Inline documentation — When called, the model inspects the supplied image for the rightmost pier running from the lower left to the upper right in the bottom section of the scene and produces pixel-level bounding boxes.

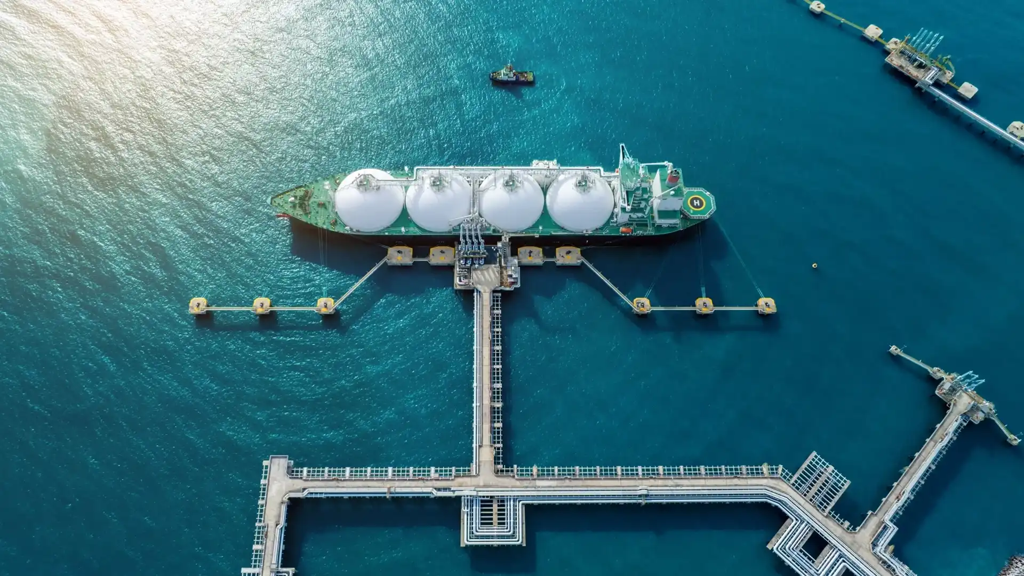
[871,389,975,529]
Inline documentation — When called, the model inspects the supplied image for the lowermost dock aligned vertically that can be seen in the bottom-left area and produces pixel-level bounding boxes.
[241,455,303,576]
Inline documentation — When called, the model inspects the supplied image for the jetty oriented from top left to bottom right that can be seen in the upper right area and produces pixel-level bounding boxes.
[921,84,1024,156]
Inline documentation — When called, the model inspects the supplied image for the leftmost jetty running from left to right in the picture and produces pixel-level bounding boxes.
[288,467,787,547]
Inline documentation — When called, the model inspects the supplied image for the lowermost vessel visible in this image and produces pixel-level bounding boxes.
[269,145,715,247]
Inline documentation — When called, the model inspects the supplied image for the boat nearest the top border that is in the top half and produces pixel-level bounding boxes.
[489,66,536,88]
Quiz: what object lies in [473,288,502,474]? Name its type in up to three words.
pier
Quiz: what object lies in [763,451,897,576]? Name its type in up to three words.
pier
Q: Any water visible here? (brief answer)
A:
Yes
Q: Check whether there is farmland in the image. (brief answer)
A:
No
